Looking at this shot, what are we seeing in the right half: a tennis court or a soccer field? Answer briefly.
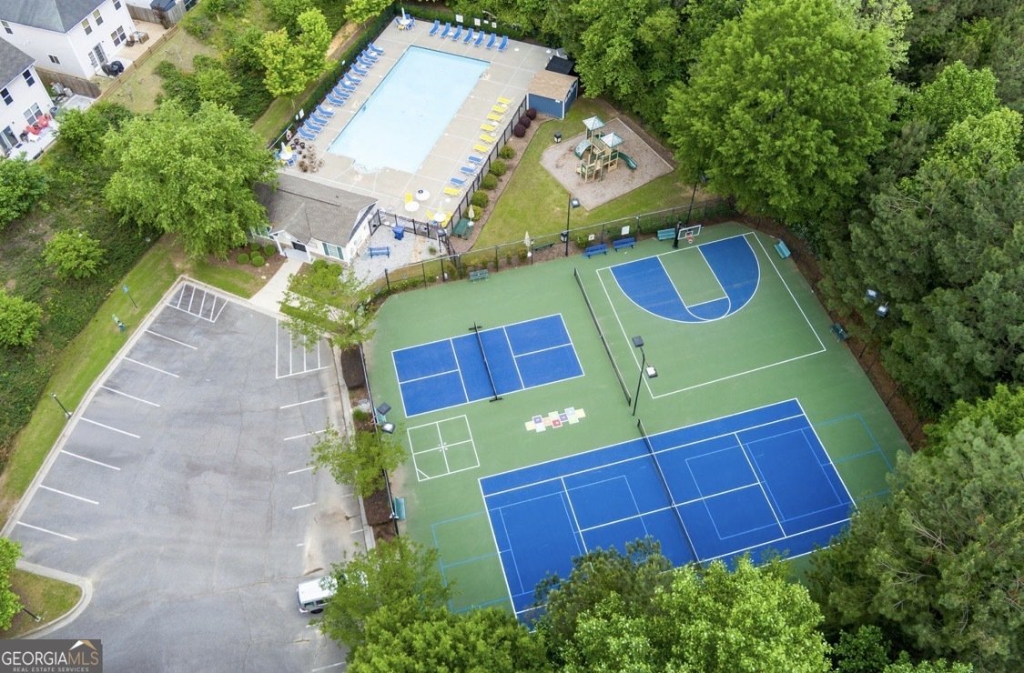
tennis court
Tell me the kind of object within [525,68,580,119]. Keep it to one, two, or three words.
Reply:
shed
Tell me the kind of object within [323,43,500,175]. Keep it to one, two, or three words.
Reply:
swimming pool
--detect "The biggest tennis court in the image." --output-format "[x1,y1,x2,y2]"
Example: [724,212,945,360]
[478,398,870,631]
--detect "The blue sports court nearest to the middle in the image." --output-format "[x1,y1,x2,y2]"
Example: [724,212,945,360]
[392,314,584,417]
